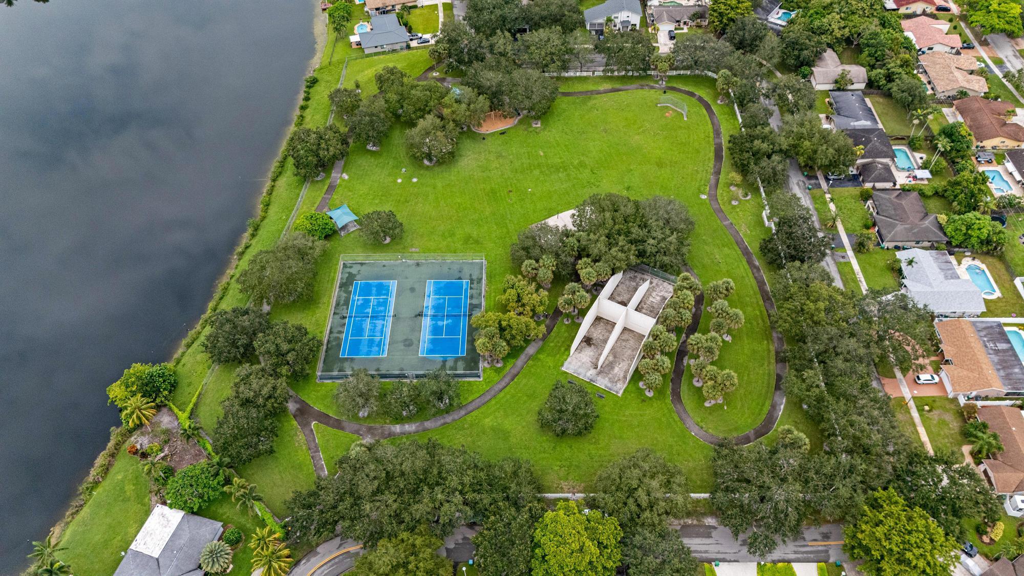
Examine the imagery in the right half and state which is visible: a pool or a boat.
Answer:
pool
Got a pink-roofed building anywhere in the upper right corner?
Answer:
Yes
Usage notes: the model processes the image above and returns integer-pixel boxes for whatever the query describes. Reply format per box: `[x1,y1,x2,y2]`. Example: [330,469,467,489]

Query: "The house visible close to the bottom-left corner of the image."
[114,504,224,576]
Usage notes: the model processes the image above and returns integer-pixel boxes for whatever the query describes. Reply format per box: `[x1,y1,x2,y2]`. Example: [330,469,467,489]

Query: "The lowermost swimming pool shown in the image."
[1004,326,1024,370]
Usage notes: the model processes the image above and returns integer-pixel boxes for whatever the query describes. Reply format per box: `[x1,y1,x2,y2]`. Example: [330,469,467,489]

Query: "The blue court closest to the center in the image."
[419,280,470,356]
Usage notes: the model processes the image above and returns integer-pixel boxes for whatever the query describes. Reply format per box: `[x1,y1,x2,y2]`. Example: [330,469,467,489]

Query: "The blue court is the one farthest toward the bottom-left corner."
[339,281,397,357]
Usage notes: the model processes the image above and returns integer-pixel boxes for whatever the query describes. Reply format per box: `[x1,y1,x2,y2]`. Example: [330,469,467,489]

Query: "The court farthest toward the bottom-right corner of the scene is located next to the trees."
[563,269,674,394]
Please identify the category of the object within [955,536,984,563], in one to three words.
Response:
car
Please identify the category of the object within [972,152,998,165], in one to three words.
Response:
gazebo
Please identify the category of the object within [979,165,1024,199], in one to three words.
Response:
swimming pool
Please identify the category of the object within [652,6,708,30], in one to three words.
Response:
house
